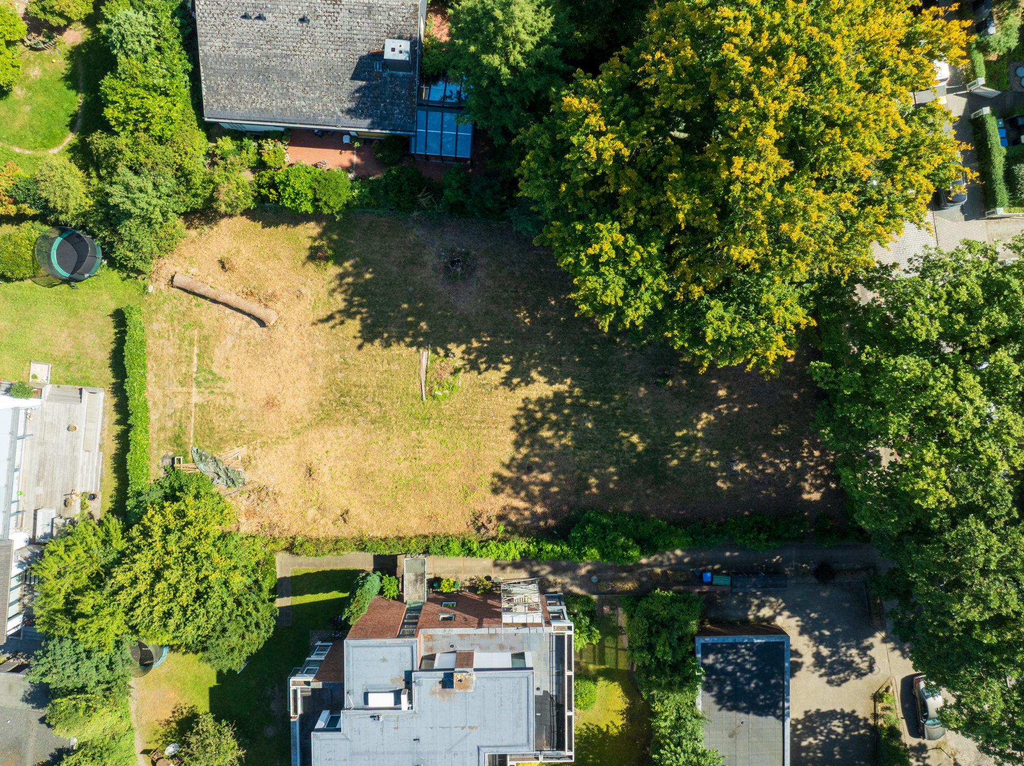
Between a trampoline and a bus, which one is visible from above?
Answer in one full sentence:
The one in the frame is a trampoline.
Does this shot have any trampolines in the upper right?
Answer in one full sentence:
No, no trampoline can be made out in the upper right.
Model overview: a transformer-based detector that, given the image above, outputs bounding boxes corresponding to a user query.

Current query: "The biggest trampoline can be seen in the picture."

[32,222,108,288]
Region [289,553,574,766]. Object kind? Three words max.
building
